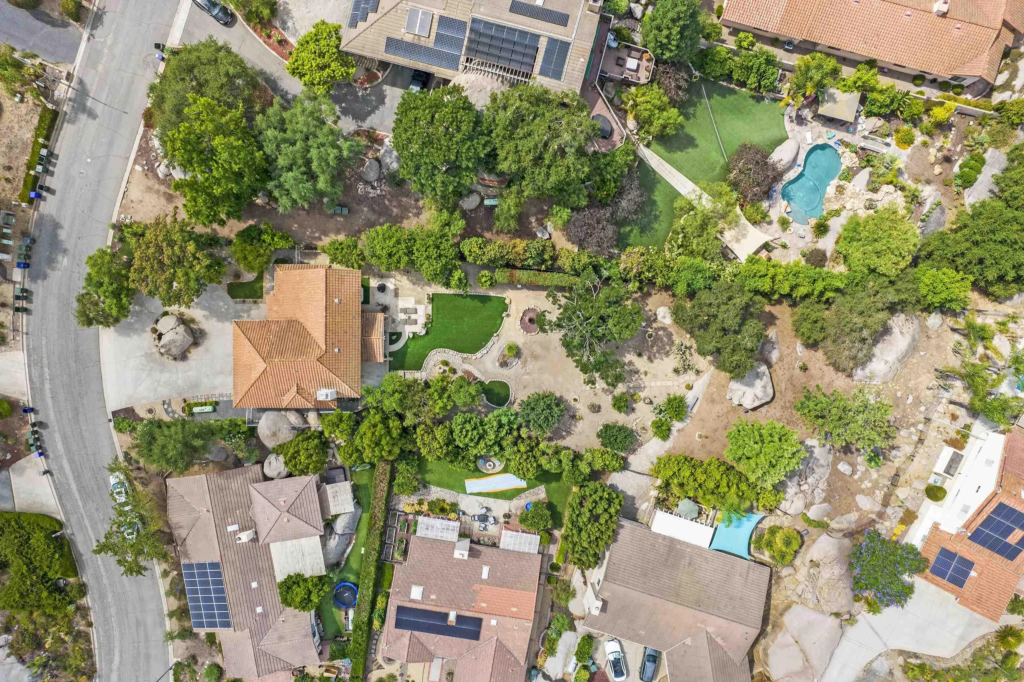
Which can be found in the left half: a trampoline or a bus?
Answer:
trampoline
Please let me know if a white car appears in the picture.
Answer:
Yes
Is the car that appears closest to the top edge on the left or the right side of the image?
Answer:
left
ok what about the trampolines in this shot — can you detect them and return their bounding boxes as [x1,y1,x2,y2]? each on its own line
[329,580,359,614]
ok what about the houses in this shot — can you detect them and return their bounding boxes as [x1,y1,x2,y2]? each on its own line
[382,535,542,682]
[342,0,605,93]
[582,517,770,682]
[718,0,1024,91]
[167,463,331,682]
[232,264,385,409]
[904,402,1024,623]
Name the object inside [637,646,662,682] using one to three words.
car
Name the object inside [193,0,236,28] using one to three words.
car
